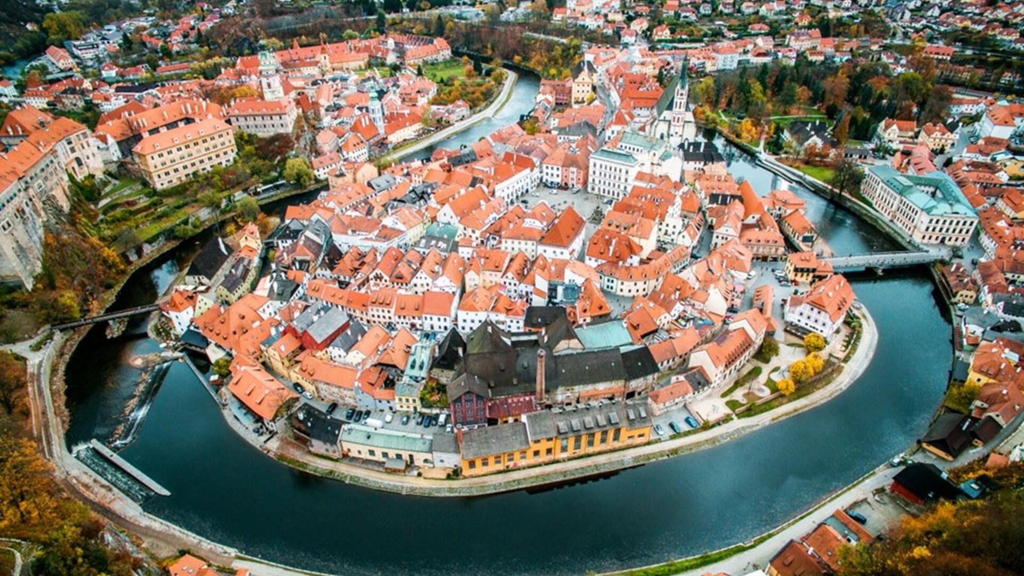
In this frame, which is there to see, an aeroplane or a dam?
dam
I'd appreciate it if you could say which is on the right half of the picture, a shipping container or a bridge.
bridge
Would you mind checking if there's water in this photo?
Yes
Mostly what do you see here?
buildings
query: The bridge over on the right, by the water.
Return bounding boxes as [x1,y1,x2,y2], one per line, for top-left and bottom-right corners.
[817,246,963,278]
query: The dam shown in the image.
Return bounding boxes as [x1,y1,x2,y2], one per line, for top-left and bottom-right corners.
[112,363,170,449]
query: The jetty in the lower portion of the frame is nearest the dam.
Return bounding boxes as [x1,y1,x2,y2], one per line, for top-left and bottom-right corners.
[89,438,175,501]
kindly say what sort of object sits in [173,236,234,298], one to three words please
house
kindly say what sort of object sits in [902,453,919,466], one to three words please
vehicle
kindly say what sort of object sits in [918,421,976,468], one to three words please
house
